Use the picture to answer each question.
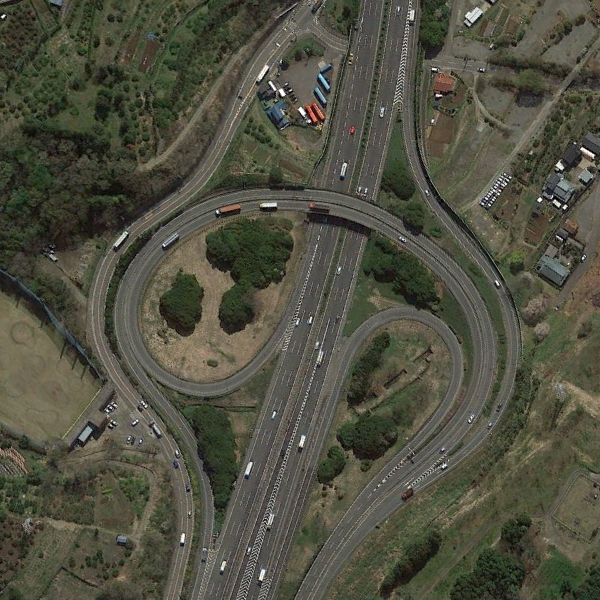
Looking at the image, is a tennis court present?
No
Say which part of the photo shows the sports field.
left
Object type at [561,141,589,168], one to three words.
house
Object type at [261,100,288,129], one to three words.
house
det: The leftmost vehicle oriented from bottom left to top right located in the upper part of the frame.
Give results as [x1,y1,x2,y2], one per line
[112,231,129,249]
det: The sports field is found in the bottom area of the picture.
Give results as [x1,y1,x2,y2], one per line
[0,276,103,444]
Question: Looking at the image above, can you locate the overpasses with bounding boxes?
[303,188,386,231]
